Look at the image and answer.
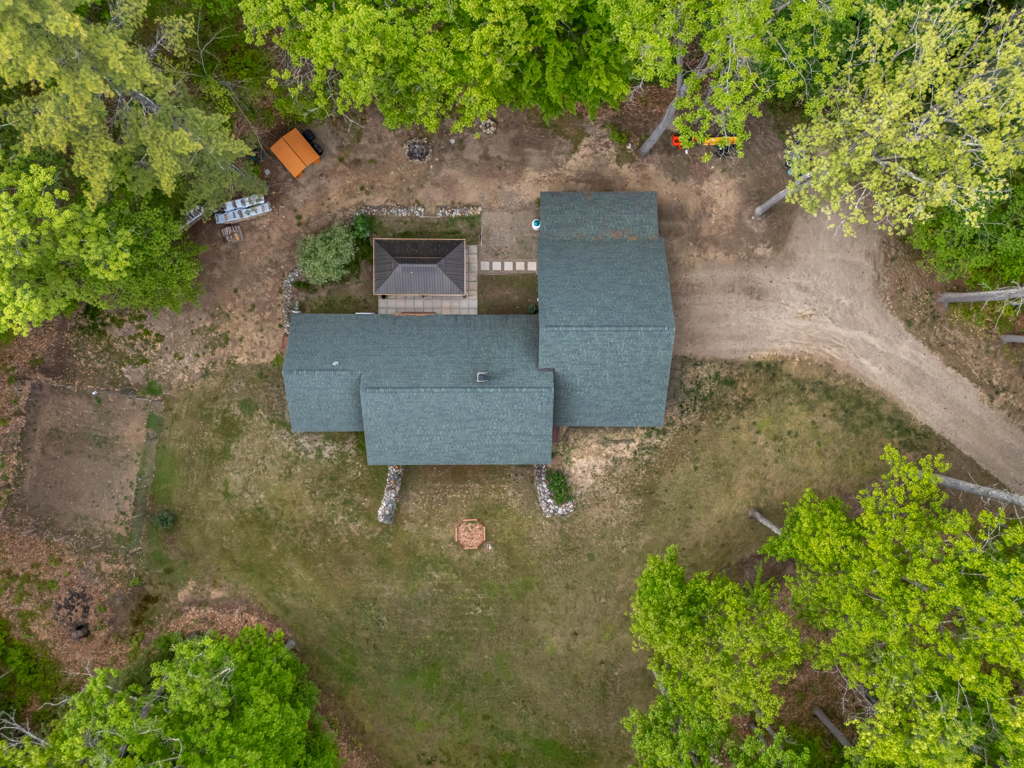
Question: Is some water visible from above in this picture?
No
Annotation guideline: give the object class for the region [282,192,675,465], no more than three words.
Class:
house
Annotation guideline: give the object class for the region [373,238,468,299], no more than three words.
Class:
gazebo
